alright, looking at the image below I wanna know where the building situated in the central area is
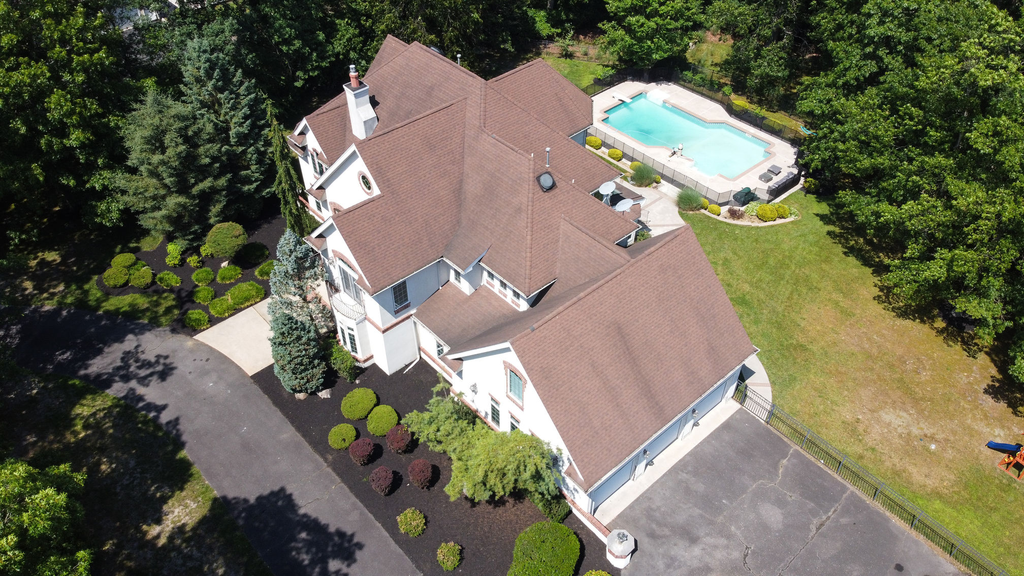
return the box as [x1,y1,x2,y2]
[287,33,758,519]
